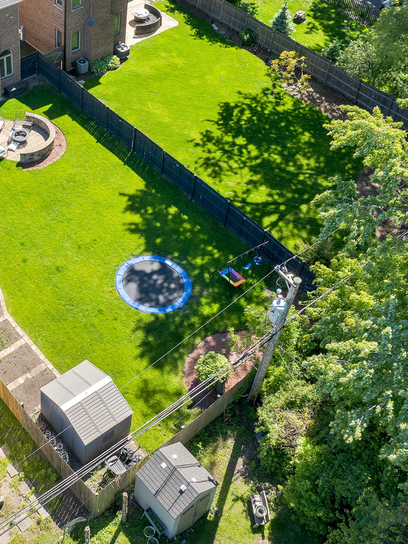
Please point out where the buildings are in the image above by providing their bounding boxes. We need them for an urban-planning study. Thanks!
[19,0,127,65]
[41,361,134,464]
[136,443,218,537]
